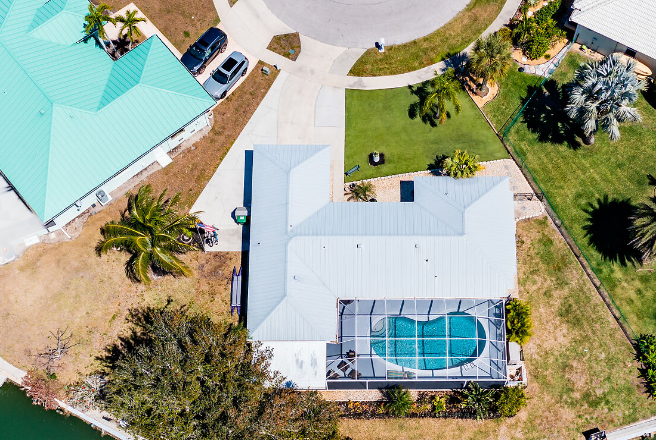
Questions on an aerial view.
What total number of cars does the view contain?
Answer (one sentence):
There are 2 cars in the image.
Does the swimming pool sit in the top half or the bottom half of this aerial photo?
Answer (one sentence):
The bottom half of the photo is where the swimming pool is.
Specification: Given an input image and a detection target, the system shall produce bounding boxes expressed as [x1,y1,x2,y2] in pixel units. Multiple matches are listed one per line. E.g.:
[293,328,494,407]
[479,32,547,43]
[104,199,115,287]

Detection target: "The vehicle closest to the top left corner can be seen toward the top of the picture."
[181,27,229,77]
